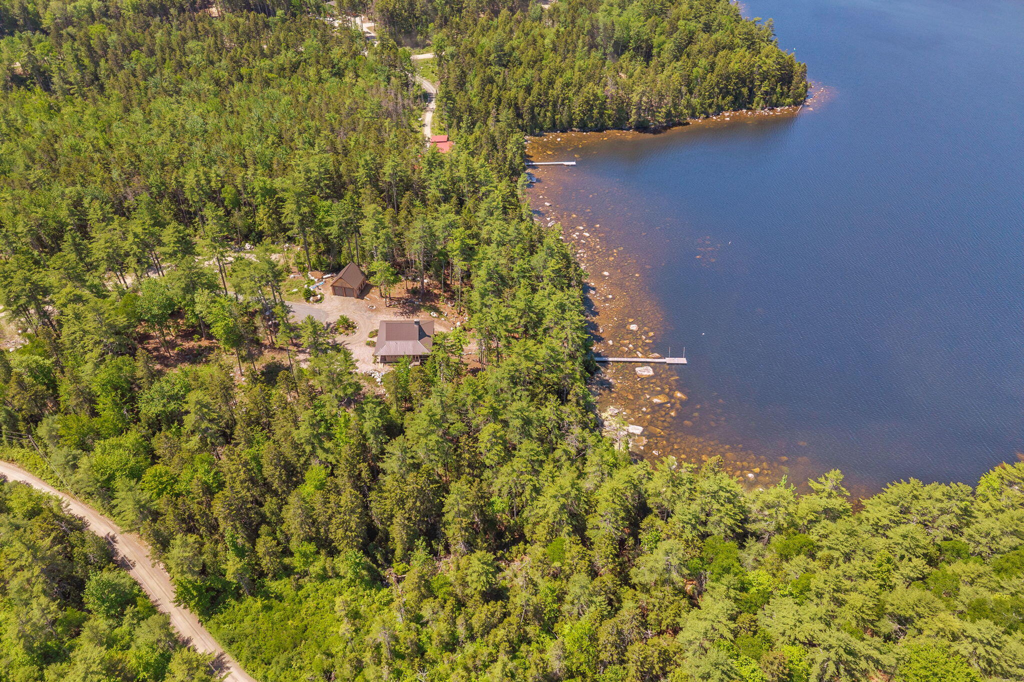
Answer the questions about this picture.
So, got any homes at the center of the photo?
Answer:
Yes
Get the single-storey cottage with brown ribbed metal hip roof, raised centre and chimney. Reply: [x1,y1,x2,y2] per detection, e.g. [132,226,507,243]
[373,317,437,370]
